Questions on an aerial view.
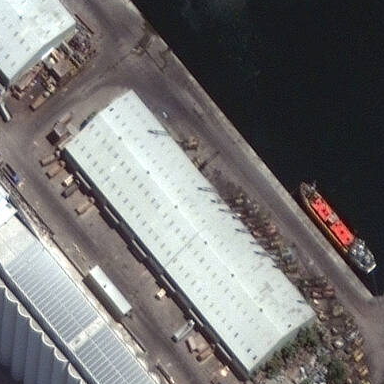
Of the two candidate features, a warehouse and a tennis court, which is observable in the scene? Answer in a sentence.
Looking from above, you can make out a warehouse.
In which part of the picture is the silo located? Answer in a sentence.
The silo appears toward the bottom left of the photo.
